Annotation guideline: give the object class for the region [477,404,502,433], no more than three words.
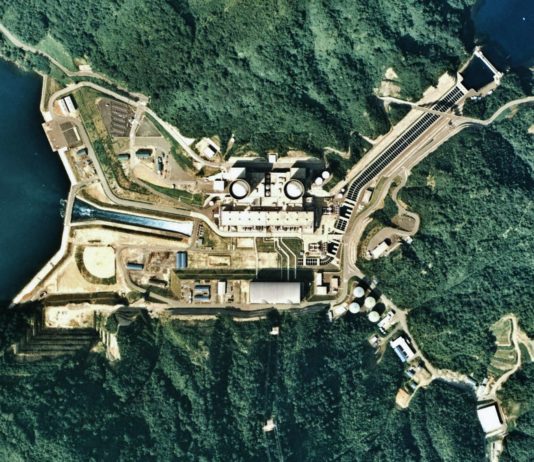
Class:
building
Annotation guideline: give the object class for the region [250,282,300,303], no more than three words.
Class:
building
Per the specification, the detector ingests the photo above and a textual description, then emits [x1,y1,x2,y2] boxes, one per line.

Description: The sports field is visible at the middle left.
[76,247,116,285]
